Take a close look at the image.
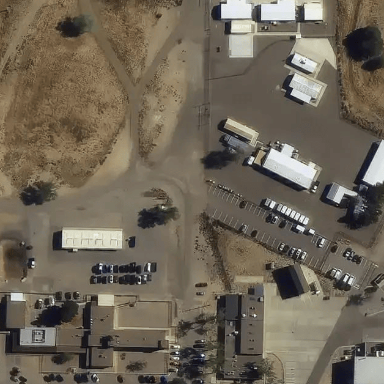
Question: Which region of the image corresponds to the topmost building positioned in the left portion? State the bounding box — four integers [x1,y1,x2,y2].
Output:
[61,228,123,251]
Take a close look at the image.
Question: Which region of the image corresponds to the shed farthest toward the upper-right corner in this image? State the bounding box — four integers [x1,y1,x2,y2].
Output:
[304,2,323,21]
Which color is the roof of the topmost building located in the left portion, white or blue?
white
